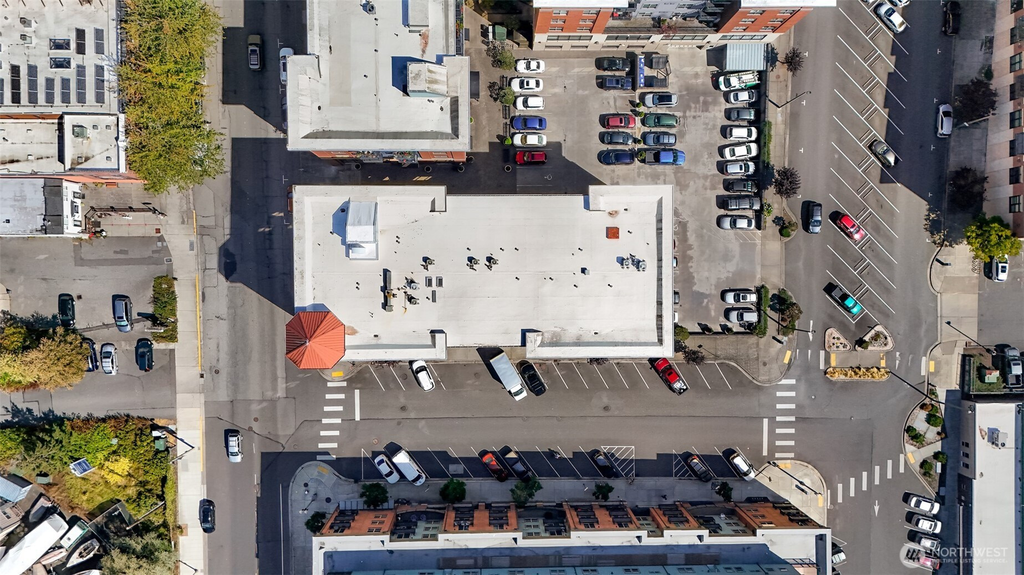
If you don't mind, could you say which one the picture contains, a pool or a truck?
truck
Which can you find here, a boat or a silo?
boat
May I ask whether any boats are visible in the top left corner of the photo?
No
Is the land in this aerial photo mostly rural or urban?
urban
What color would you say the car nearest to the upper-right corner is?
black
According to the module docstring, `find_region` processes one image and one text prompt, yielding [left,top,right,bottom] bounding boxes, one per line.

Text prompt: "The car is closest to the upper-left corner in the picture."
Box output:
[246,34,263,71]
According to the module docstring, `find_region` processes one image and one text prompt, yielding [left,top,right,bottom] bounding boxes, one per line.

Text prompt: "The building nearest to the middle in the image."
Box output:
[285,185,674,370]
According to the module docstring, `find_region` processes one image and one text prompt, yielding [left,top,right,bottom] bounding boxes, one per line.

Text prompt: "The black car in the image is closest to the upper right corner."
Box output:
[940,0,961,37]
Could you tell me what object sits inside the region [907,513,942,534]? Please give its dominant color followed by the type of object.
white car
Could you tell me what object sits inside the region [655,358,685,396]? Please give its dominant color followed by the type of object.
red truck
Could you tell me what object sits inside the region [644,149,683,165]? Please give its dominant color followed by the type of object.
blue vehicle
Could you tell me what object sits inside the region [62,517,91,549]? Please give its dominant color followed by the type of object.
white boat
